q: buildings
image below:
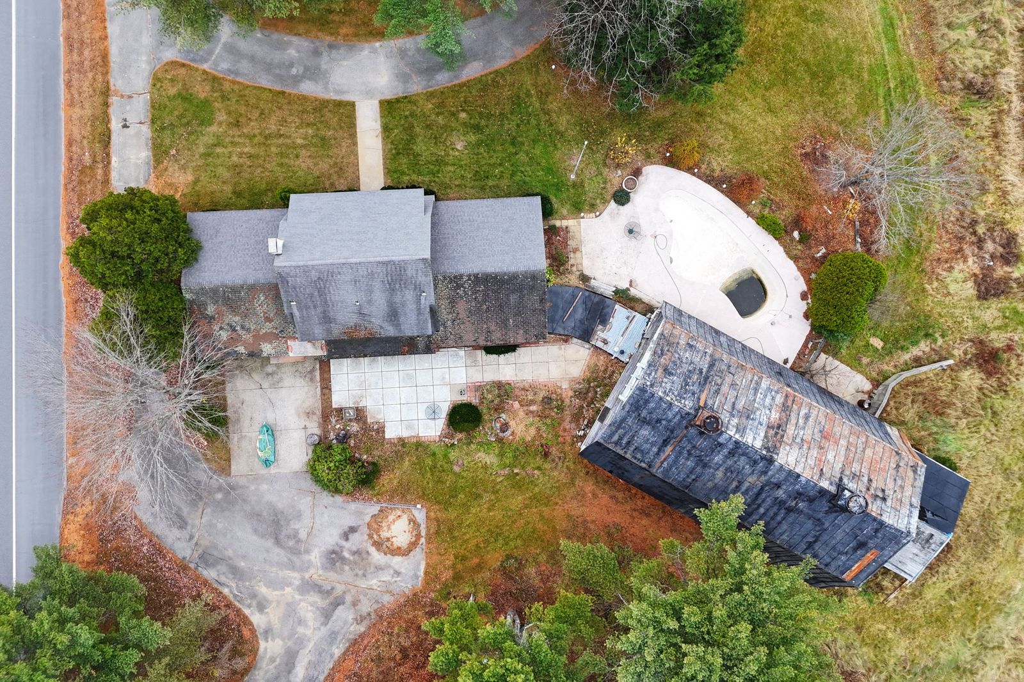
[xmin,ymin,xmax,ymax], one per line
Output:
[181,188,548,364]
[579,302,971,585]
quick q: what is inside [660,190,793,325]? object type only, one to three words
swimming pool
